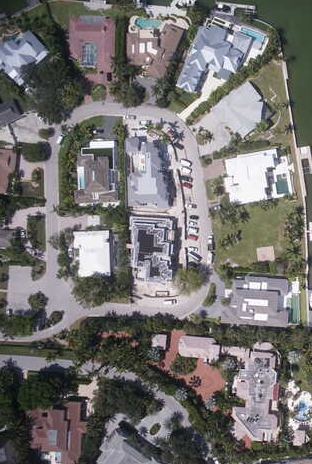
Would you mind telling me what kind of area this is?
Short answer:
residential area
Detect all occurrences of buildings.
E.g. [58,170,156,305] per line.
[127,24,186,83]
[125,218,175,279]
[125,136,176,208]
[0,442,22,464]
[27,399,84,464]
[74,230,115,275]
[0,148,20,196]
[0,28,48,88]
[292,430,307,447]
[0,88,32,125]
[208,80,273,145]
[171,17,259,96]
[179,335,220,359]
[221,275,291,327]
[0,228,18,249]
[68,15,117,73]
[152,333,168,348]
[229,351,284,443]
[224,149,280,204]
[95,429,169,464]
